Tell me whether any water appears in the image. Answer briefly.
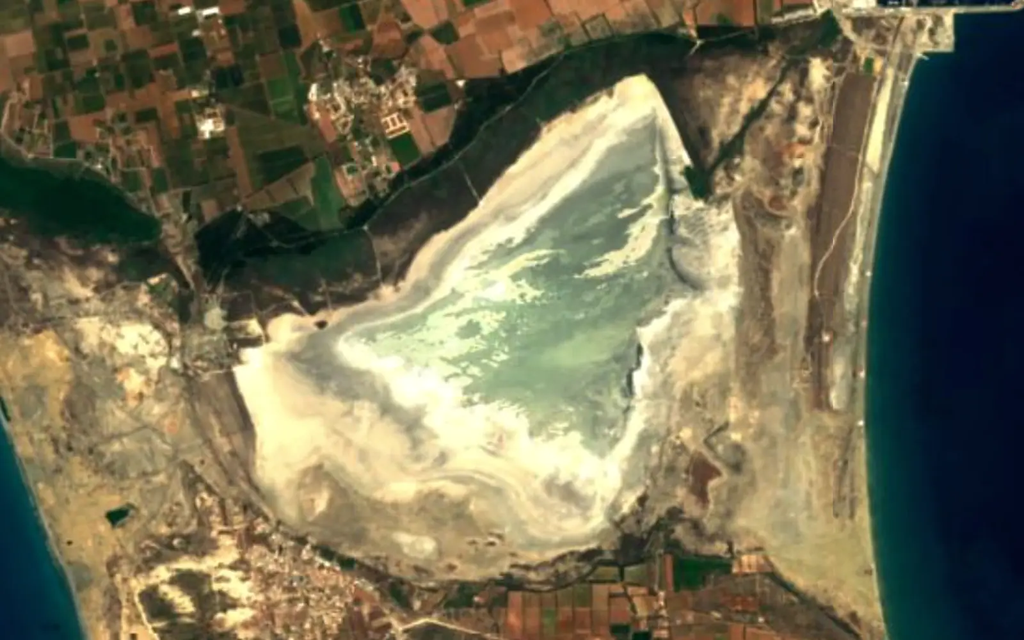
Yes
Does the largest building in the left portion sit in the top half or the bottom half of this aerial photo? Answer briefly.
top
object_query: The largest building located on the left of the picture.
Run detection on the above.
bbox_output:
[382,113,409,139]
